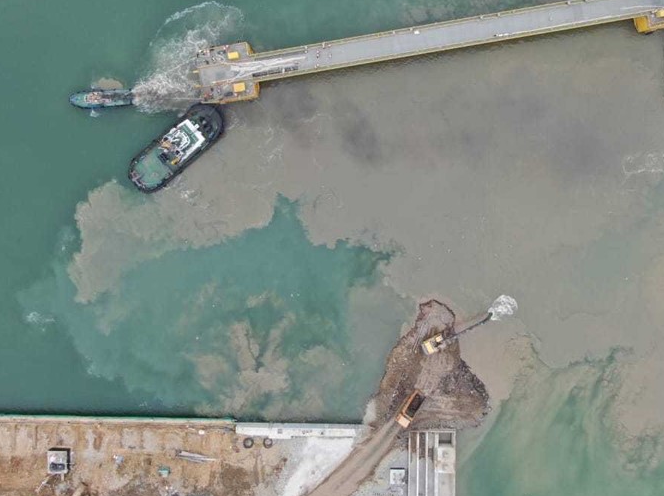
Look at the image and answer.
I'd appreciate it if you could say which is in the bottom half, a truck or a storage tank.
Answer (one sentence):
Looking in the bottom half, you will find a truck.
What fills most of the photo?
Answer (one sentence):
What you mostly see from above here is water.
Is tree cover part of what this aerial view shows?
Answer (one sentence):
No, there's no tree cover in this view.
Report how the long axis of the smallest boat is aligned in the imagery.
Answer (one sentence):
The smallest boat has been laid out horizontally relative to the frame.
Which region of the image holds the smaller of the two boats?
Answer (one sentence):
The smaller of the two boats is located in the top left region of the scene.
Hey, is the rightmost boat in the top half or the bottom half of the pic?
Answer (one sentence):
The rightmost boat sits in the top half of the picture.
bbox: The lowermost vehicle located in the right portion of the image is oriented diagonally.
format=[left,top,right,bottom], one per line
[396,390,429,430]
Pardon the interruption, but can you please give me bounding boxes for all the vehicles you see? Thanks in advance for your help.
[418,308,499,358]
[396,390,429,430]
